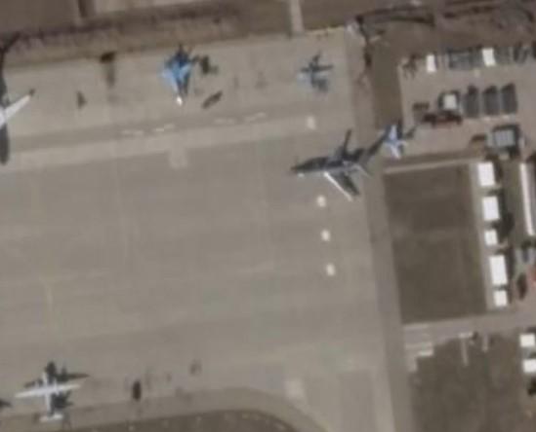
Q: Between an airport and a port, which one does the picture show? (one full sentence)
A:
The picture captures an airport.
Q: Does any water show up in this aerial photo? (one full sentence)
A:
No, water can't be seen anywhere here.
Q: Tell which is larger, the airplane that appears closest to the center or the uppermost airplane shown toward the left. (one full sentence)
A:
Compared with the uppermost airplane shown toward the left, the airplane that appears closest to the center is the bigger one.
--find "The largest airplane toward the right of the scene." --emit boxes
[292,131,370,202]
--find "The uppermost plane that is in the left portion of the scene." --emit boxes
[160,53,191,106]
